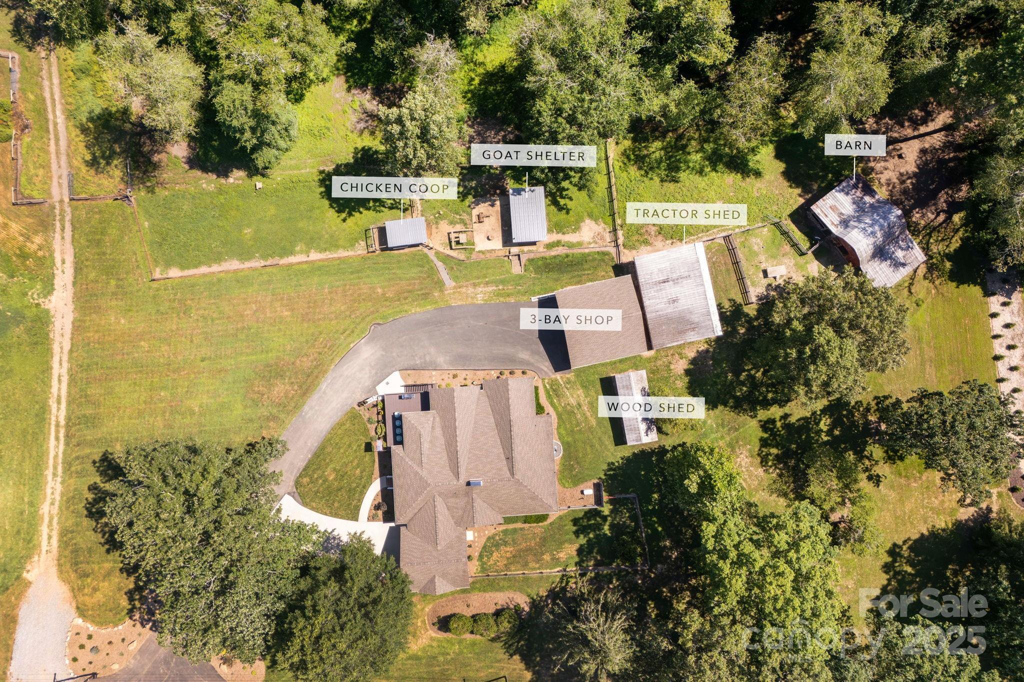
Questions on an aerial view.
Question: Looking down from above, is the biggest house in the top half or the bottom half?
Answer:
bottom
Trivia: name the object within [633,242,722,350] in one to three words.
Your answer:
shed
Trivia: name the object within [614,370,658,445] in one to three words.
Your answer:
shed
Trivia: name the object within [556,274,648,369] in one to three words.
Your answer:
building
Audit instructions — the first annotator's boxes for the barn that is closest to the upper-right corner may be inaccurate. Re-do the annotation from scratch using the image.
[806,172,926,290]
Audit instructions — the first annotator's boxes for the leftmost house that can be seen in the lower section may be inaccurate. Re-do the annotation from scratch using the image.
[391,377,559,595]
